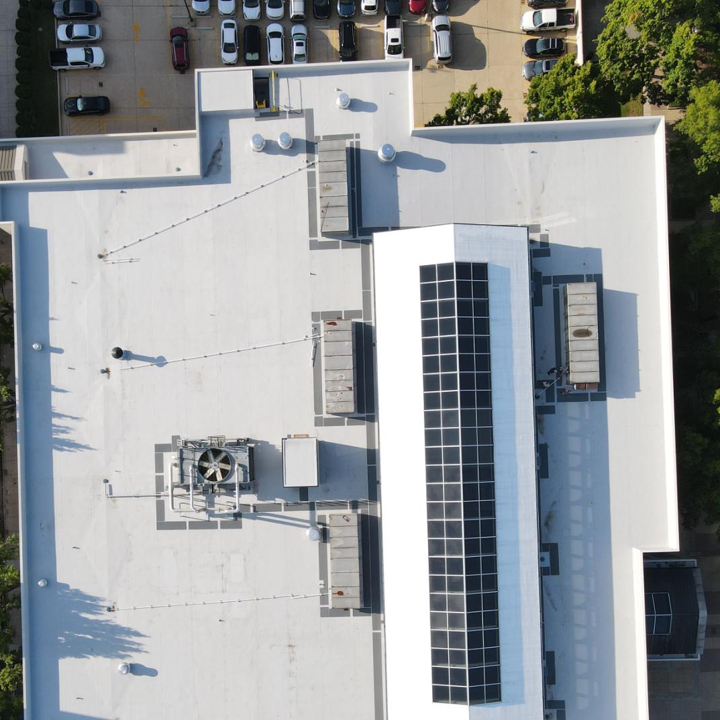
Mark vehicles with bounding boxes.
[524,36,566,61]
[59,20,102,45]
[336,0,358,18]
[311,0,334,20]
[57,0,99,22]
[263,23,287,66]
[218,18,240,66]
[240,21,263,67]
[525,0,572,12]
[409,0,428,16]
[288,0,305,23]
[67,94,110,118]
[168,28,191,76]
[216,0,237,16]
[430,17,454,65]
[431,0,450,14]
[361,0,379,16]
[240,0,262,21]
[383,14,407,60]
[336,20,359,62]
[521,58,567,83]
[263,0,287,18]
[50,44,104,72]
[520,7,577,35]
[193,0,211,15]
[288,25,310,65]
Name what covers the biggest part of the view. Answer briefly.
buildings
